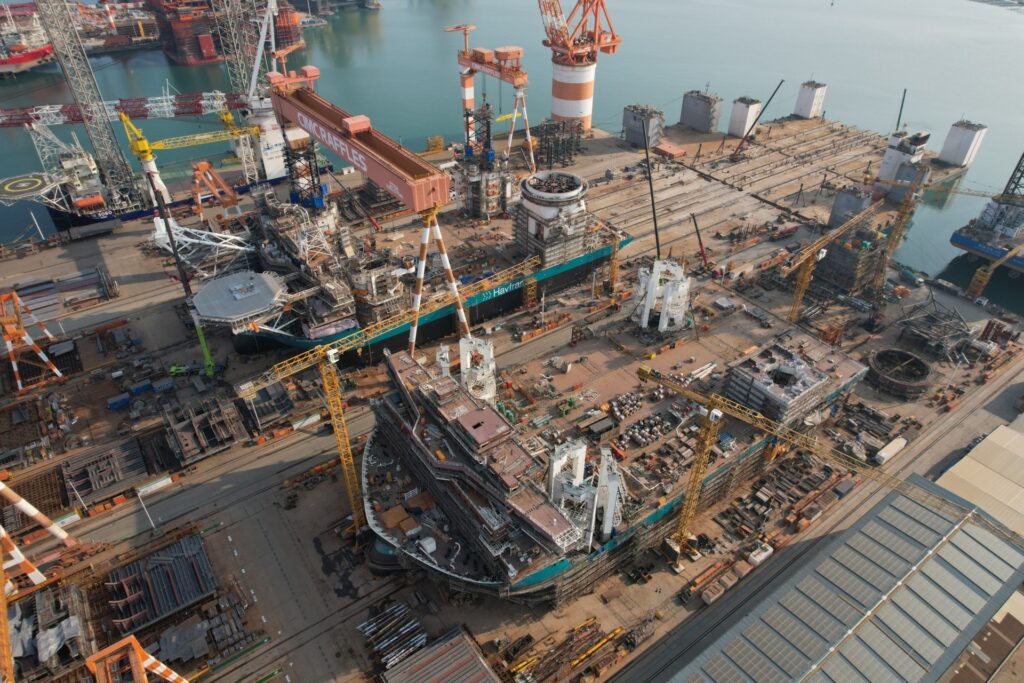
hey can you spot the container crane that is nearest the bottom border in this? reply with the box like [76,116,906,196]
[75,624,208,683]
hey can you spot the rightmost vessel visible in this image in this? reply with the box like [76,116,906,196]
[934,131,1024,288]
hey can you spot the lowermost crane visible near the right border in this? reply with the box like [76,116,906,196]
[635,369,1024,572]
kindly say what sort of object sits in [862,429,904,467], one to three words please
truck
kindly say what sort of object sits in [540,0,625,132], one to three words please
crane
